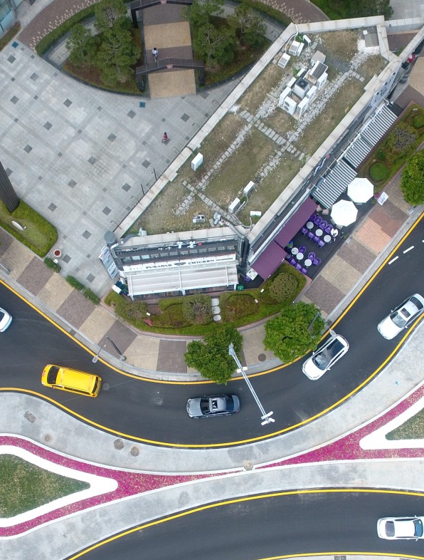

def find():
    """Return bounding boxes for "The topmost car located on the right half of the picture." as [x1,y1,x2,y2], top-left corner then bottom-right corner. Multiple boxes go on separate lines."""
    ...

[375,291,424,342]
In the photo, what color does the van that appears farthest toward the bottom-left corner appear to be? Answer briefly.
yellow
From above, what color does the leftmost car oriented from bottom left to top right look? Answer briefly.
white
